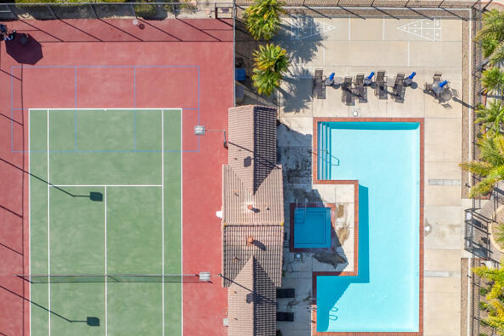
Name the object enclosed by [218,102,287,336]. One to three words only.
building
